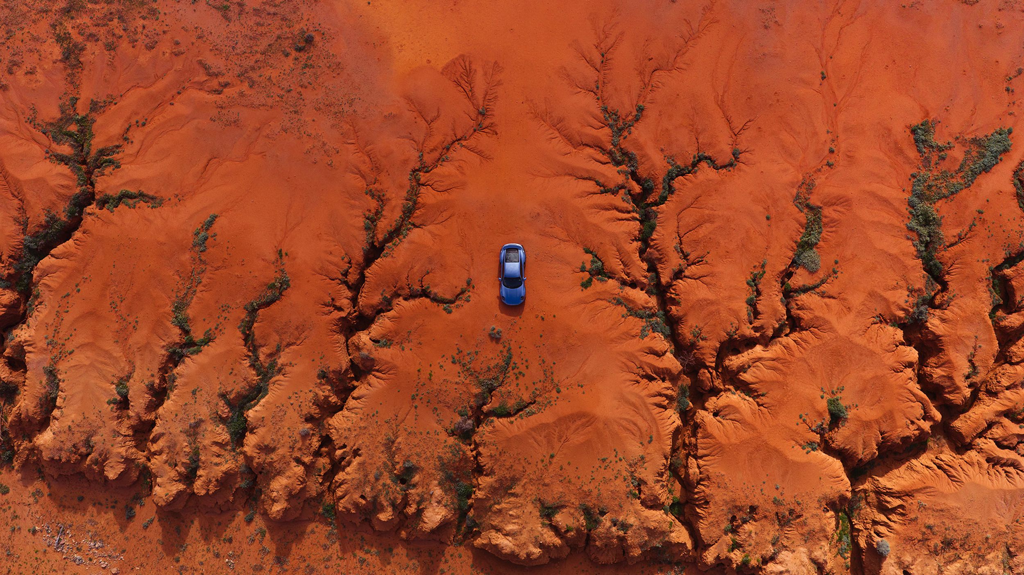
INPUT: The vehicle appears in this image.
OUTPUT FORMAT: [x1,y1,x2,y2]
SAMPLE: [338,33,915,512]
[498,243,528,306]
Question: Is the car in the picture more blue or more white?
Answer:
blue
